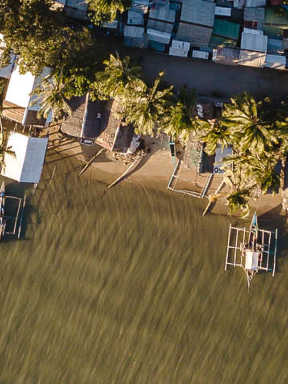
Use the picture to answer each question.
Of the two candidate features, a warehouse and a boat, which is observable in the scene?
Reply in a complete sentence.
There is a boat in the scene.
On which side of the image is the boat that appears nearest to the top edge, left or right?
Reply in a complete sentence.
You can find the boat that appears nearest to the top edge on the right side of the picture.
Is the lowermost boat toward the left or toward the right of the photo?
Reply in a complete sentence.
It is on the right.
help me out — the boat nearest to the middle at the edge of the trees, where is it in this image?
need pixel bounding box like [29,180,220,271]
[168,134,212,197]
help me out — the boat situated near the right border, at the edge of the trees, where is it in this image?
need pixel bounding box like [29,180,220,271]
[225,209,277,291]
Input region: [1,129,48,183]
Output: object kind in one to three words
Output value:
house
